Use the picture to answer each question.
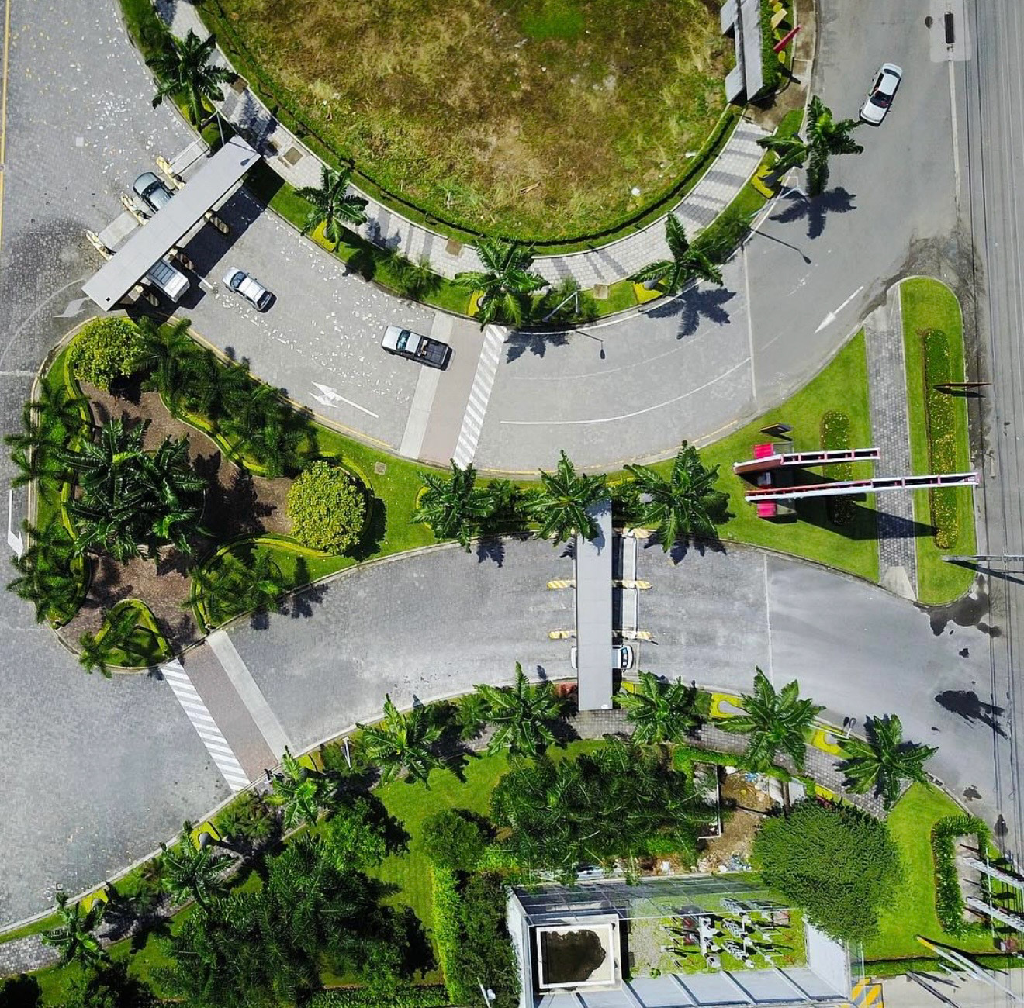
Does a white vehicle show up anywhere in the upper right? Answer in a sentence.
Yes, there is a white vehicle in the upper right.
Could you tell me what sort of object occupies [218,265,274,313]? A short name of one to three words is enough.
car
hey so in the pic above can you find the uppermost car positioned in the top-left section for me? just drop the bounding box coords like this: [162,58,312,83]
[133,169,173,213]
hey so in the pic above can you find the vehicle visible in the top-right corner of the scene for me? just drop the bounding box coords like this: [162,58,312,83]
[858,61,906,127]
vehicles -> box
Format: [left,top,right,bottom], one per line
[218,265,274,313]
[380,327,455,369]
[133,169,173,213]
[151,256,197,306]
[858,61,906,127]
